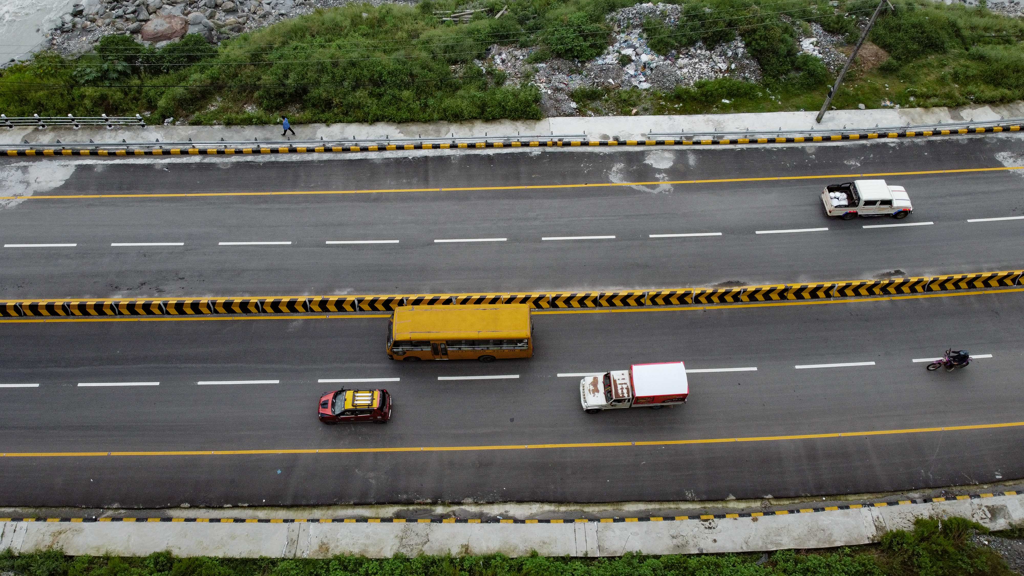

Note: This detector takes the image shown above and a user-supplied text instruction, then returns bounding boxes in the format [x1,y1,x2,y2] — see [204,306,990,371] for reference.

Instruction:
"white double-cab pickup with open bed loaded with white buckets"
[815,179,916,219]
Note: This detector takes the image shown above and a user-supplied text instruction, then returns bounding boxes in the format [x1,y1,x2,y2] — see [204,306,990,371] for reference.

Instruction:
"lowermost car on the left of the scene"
[315,381,395,426]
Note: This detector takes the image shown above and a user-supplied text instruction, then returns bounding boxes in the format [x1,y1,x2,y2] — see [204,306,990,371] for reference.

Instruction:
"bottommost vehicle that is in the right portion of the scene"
[578,361,690,413]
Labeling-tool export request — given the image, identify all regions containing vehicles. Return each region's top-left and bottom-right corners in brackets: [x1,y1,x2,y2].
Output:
[315,381,395,426]
[383,304,536,362]
[578,361,690,413]
[815,179,916,219]
[925,349,977,371]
